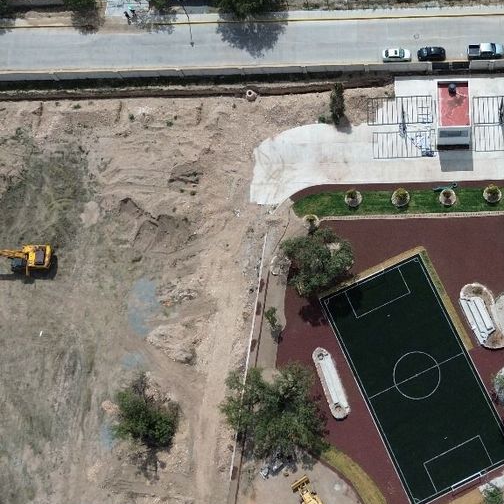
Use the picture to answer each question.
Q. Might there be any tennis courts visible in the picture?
No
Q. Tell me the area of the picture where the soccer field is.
bottom right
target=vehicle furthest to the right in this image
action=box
[466,42,504,60]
